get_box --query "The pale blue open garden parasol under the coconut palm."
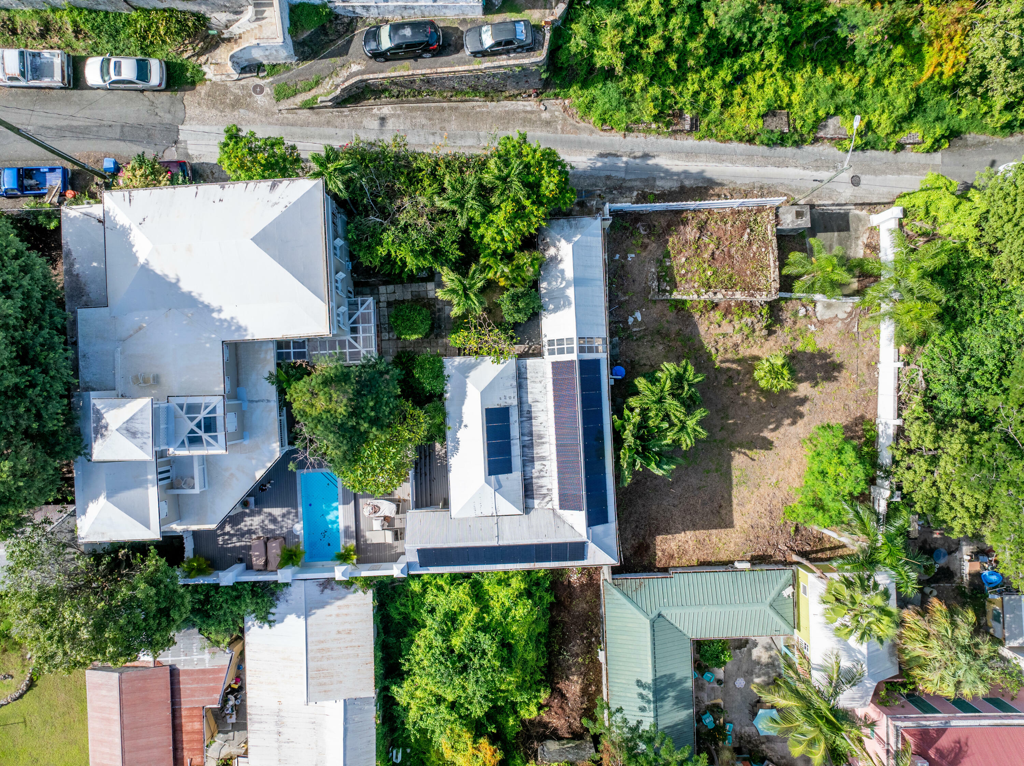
[750,706,779,736]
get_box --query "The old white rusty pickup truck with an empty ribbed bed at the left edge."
[0,49,77,95]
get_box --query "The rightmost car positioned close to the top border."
[462,15,538,58]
